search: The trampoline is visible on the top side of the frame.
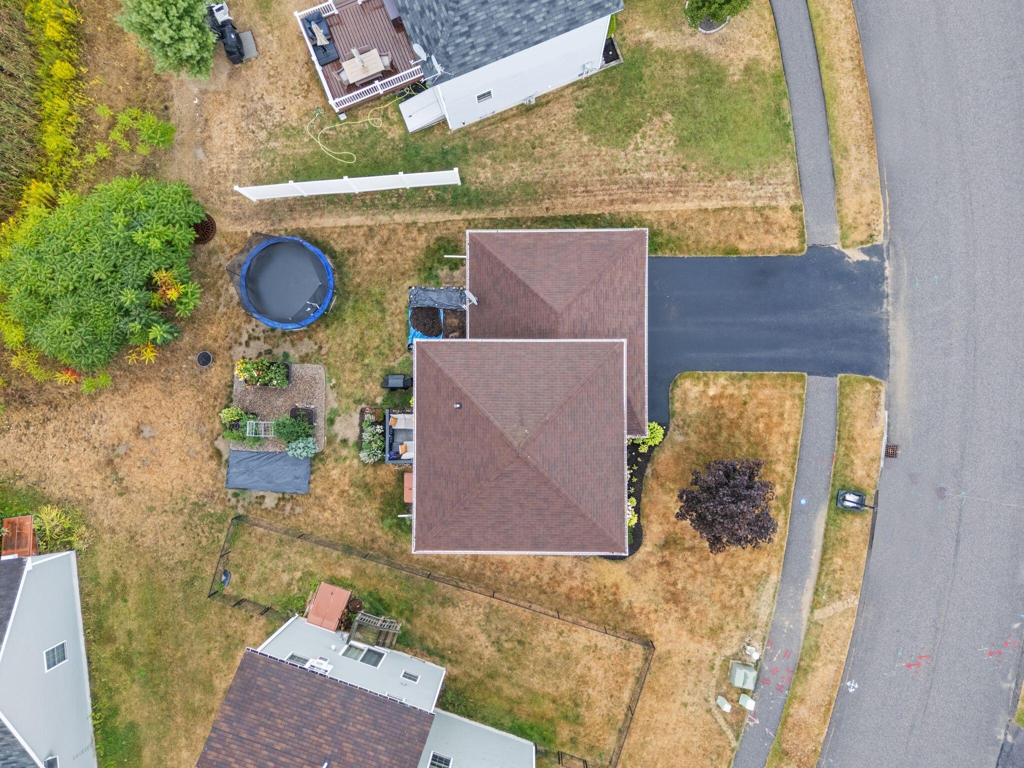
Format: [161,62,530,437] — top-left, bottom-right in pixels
[224,231,341,333]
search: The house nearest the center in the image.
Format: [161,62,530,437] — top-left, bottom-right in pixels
[398,229,649,555]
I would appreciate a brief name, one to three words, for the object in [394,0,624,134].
house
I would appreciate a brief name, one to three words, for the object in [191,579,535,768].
house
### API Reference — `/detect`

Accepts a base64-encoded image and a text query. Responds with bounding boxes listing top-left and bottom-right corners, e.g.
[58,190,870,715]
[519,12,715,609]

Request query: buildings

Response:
[191,579,535,768]
[398,229,649,555]
[0,516,97,768]
[394,0,624,134]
